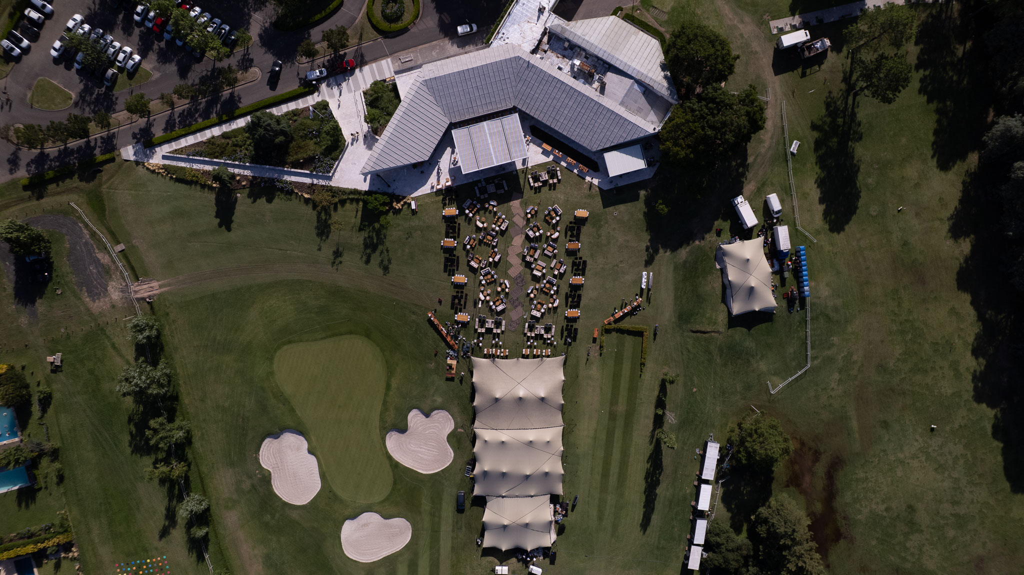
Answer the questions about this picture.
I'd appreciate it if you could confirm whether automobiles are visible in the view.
Yes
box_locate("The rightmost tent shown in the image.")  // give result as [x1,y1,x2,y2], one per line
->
[715,225,786,324]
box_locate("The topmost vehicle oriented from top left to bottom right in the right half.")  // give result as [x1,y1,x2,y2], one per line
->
[728,193,758,230]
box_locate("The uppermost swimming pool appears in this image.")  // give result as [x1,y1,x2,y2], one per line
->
[0,405,25,447]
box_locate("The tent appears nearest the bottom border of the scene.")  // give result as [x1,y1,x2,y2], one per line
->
[469,493,559,560]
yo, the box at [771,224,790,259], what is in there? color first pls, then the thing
white vehicle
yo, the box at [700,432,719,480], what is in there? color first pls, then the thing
white trailer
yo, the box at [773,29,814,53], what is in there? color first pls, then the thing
white truck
